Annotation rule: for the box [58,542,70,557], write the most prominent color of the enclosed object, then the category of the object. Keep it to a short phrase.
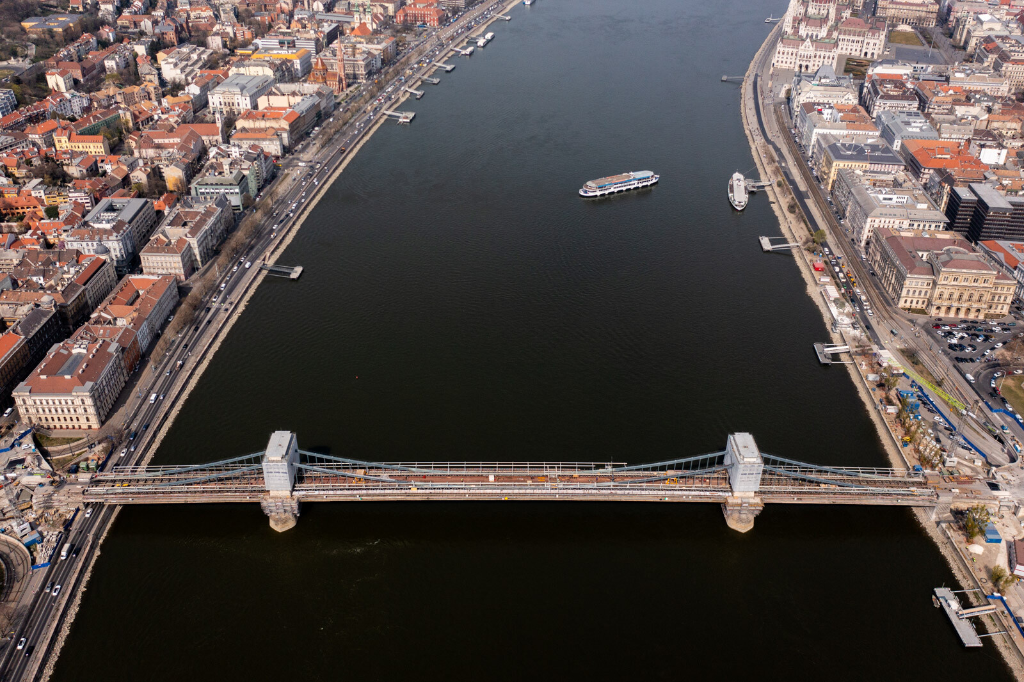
white vehicle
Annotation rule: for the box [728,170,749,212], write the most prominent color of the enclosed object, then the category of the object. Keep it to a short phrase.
white ship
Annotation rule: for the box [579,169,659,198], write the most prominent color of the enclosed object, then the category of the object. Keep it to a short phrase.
white ship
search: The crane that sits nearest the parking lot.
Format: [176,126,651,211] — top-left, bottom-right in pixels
[884,354,999,467]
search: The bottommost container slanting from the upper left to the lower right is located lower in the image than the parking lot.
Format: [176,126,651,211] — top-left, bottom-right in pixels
[976,520,1010,545]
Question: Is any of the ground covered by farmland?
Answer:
No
